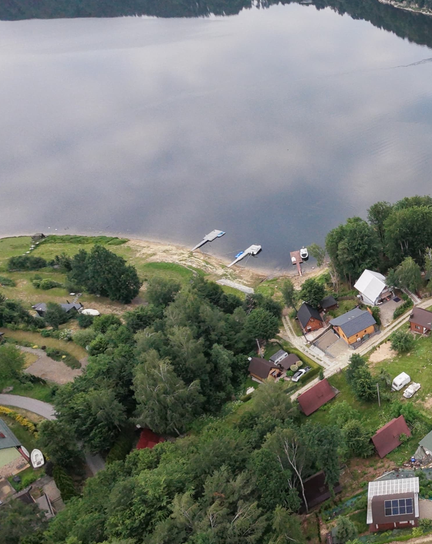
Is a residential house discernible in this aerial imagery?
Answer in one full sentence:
Yes, the photo shows a residential house.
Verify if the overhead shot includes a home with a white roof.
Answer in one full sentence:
Yes, this view includes a home with a white roof.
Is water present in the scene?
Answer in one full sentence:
Yes, water can be seen from above here.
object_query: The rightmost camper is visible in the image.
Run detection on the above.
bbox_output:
[392,372,410,391]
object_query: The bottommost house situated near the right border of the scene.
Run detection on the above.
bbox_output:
[369,475,417,531]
